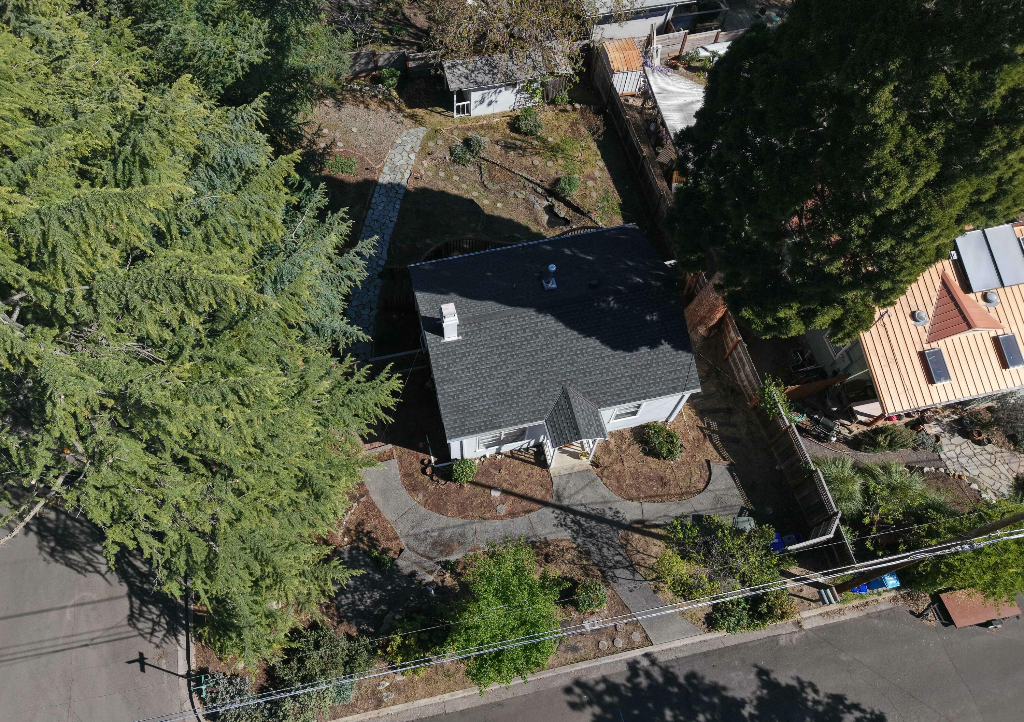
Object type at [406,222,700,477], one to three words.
house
